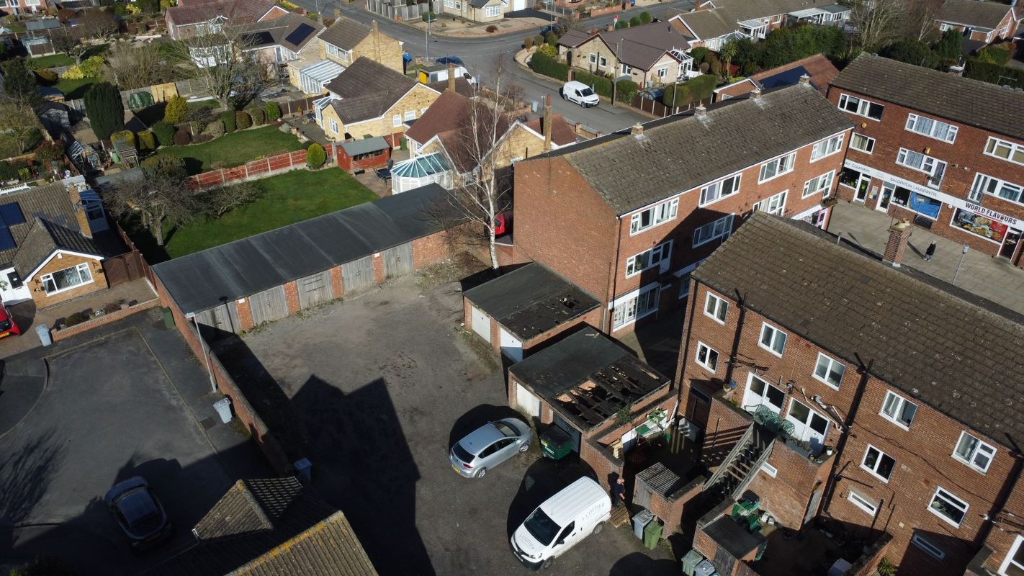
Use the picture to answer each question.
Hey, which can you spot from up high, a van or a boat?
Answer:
van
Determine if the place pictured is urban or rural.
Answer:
urban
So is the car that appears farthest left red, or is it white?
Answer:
red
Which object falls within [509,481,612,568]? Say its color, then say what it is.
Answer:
white van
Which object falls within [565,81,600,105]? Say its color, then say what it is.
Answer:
white vehicle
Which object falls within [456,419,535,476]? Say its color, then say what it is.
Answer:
gray car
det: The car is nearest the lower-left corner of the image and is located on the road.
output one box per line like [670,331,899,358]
[107,475,172,547]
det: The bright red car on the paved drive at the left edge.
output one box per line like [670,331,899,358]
[0,310,22,348]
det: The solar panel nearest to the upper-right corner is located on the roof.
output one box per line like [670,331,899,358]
[763,65,828,91]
